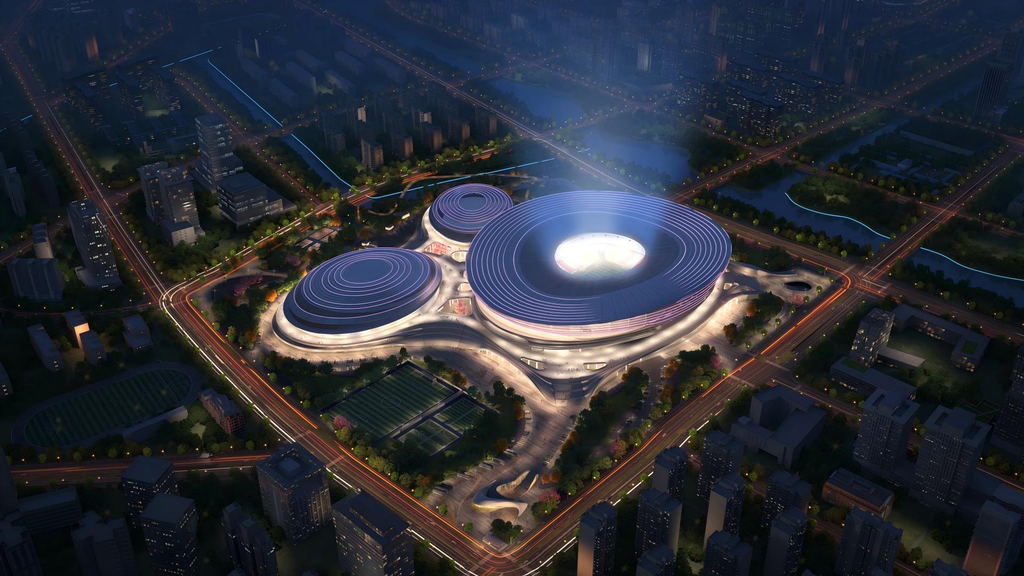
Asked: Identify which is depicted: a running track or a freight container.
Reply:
running track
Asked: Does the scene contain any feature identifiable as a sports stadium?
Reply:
Yes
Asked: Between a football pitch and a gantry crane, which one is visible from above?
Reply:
football pitch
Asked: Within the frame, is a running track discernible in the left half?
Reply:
Yes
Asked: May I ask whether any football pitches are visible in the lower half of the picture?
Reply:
Yes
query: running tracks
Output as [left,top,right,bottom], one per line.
[6,361,201,454]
